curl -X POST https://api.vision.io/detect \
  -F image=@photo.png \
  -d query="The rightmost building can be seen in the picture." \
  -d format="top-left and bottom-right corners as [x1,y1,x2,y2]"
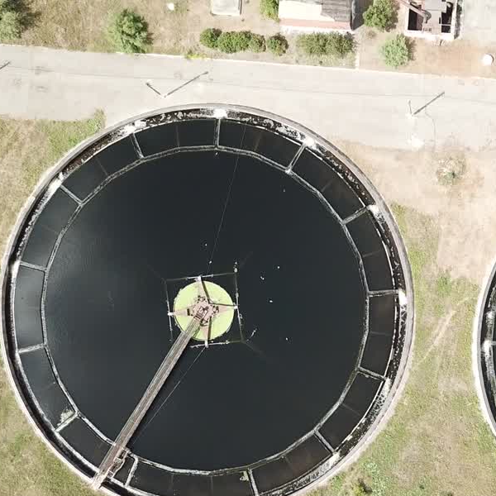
[401,0,467,48]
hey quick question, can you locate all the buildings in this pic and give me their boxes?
[275,0,366,35]
[401,0,467,48]
[211,0,243,20]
